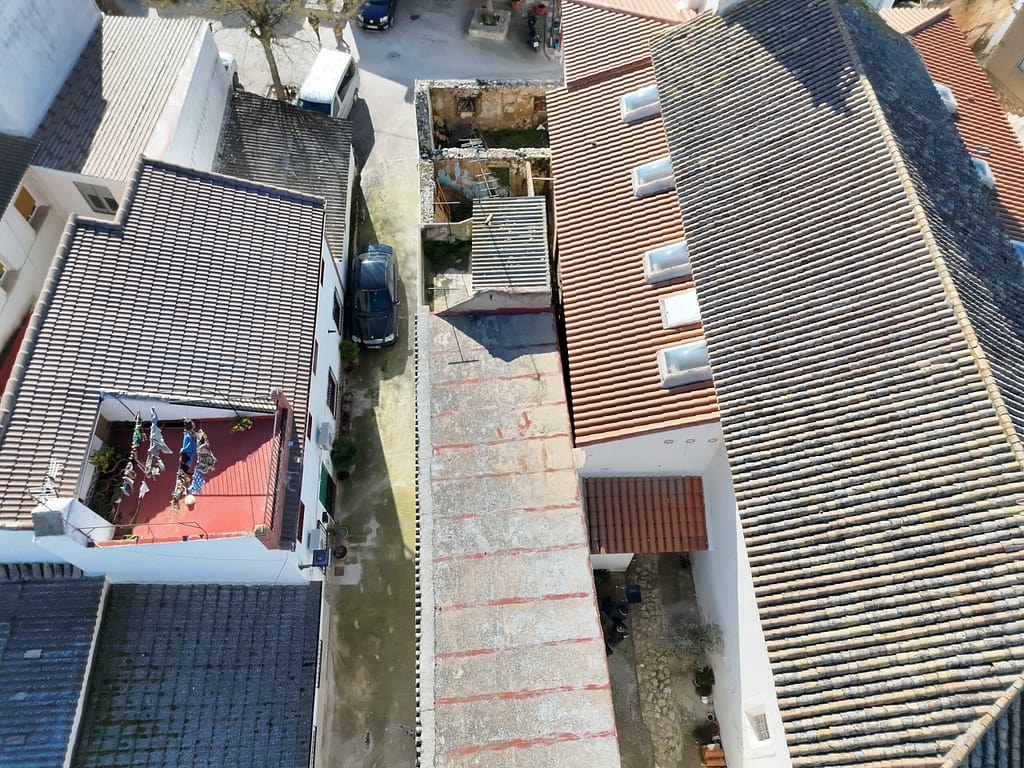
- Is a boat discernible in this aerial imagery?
No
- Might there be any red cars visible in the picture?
No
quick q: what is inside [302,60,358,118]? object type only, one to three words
van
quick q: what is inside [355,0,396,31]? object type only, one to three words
car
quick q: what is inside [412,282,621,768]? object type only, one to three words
building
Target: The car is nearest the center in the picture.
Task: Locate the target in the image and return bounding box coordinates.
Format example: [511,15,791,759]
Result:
[346,249,401,352]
